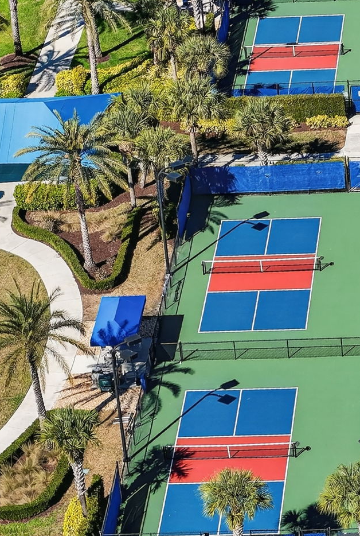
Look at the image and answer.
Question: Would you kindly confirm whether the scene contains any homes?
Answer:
No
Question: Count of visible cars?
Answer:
0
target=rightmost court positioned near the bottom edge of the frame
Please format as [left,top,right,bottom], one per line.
[157,388,298,536]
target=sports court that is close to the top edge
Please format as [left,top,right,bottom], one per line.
[244,15,344,92]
